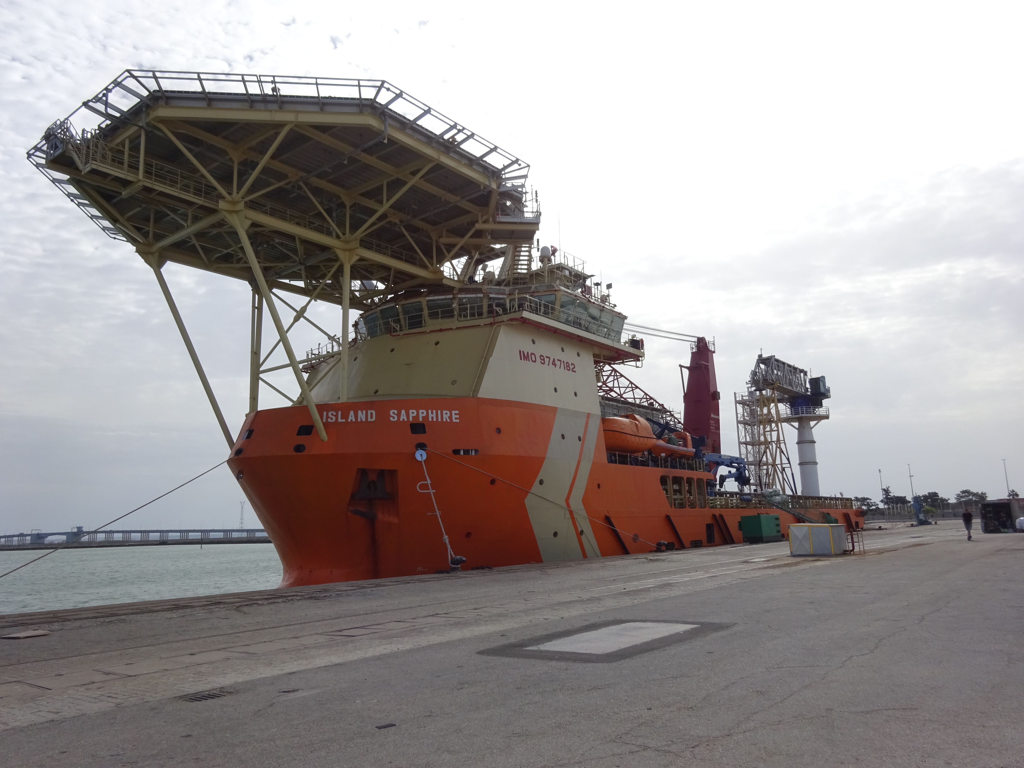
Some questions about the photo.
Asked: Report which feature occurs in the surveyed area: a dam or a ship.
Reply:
ship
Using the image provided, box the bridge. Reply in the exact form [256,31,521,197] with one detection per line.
[0,521,263,543]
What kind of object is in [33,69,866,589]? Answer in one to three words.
ship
